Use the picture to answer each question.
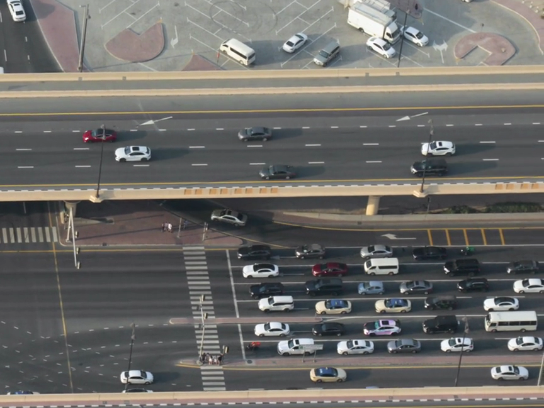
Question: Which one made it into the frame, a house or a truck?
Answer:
truck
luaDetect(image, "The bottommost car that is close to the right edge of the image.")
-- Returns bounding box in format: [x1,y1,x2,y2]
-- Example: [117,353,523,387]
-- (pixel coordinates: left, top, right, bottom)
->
[491,366,529,382]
